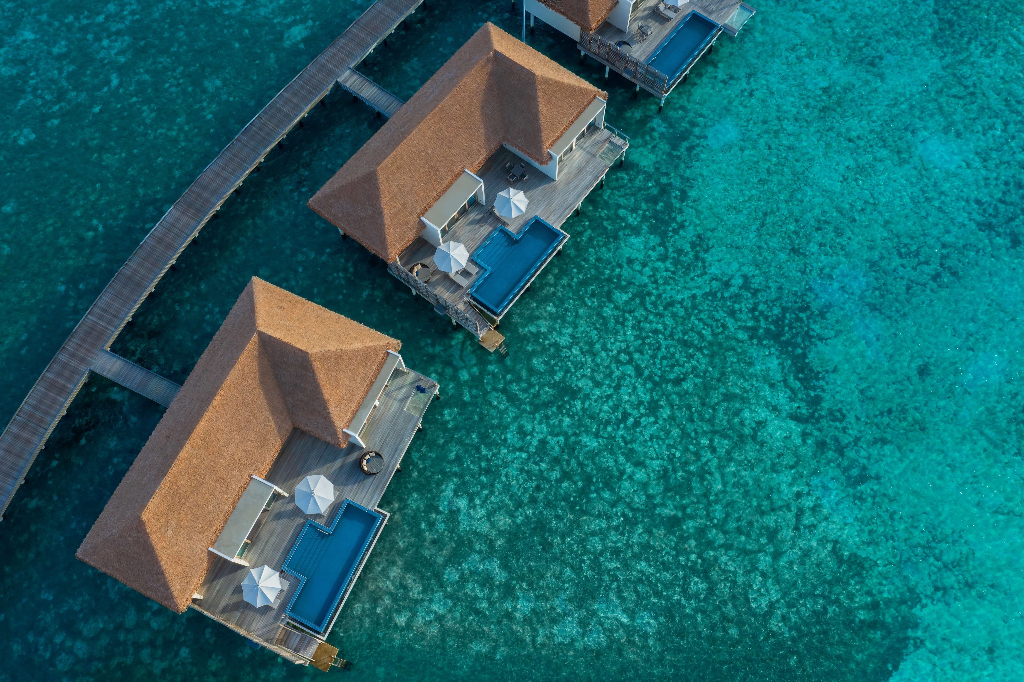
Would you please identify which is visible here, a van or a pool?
pool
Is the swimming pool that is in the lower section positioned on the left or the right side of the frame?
left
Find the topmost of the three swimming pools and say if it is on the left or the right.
right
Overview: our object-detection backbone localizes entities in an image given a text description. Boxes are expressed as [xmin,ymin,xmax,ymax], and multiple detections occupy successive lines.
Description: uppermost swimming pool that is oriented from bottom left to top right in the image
[635,10,724,127]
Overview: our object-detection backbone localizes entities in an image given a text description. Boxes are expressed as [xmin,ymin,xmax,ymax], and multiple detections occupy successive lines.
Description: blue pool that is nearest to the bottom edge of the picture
[281,498,393,641]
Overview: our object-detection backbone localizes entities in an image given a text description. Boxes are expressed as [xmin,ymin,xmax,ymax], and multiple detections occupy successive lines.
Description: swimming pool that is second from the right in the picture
[468,215,570,334]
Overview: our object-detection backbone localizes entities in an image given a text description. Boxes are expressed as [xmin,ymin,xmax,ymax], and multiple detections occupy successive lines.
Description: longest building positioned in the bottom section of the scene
[73,276,406,614]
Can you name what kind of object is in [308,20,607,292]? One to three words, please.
house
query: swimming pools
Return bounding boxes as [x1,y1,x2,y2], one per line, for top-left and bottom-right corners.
[281,498,393,641]
[468,215,570,334]
[635,10,724,127]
